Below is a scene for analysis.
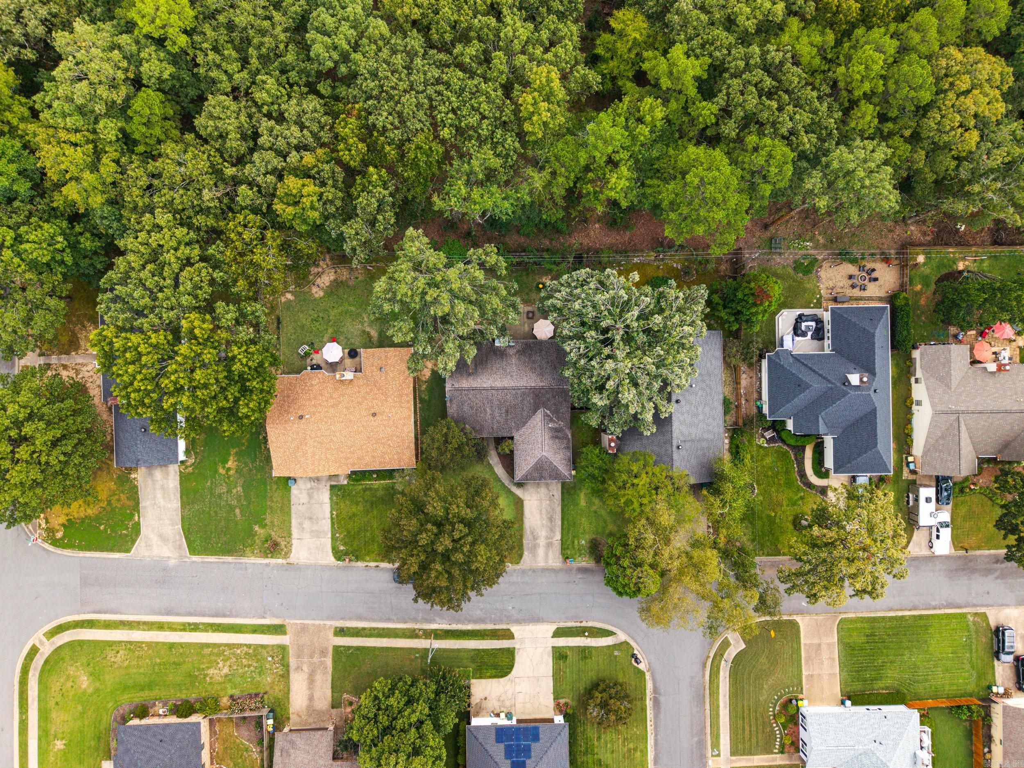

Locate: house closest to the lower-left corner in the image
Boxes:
[113,714,209,768]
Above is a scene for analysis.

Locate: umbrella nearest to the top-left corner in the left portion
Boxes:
[323,342,343,362]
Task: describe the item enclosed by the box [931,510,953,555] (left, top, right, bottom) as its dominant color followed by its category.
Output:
white truck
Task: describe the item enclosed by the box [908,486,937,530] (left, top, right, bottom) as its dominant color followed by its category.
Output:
white vehicle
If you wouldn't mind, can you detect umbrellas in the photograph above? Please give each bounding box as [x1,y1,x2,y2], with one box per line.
[970,341,993,361]
[991,319,1015,342]
[323,342,343,362]
[533,319,552,340]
